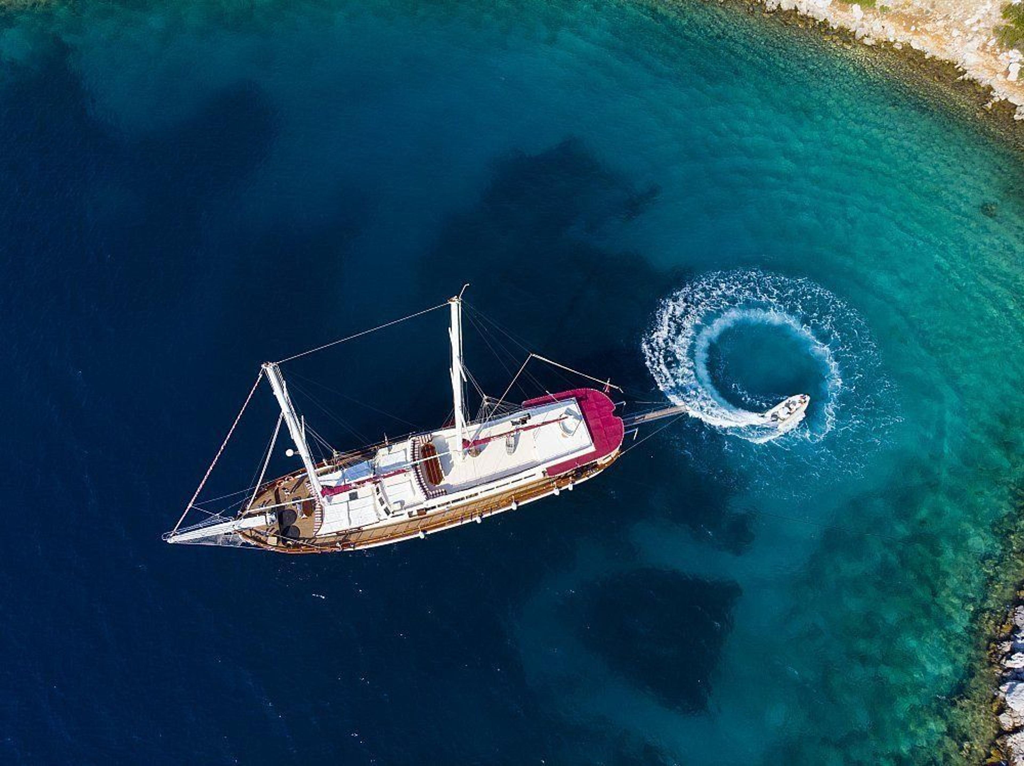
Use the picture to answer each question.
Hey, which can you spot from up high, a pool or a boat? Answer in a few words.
boat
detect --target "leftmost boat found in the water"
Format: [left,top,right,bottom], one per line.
[158,283,688,554]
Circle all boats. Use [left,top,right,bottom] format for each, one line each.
[158,283,688,554]
[761,395,810,430]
